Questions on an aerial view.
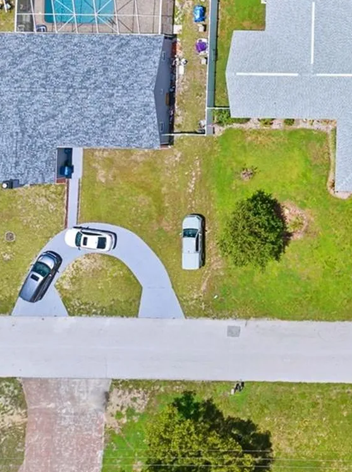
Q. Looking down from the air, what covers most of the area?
grass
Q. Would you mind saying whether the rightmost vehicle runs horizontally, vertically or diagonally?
vertically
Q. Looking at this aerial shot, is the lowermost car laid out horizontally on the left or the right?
left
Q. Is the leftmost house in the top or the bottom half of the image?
top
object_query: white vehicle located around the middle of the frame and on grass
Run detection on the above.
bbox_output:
[179,213,207,269]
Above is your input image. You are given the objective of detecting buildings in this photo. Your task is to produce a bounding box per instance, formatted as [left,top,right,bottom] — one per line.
[225,0,352,192]
[0,32,174,186]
